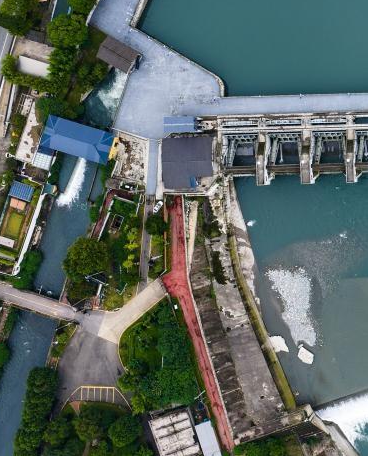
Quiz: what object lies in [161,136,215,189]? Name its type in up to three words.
building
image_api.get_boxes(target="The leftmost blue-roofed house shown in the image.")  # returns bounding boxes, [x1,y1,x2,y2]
[9,180,40,202]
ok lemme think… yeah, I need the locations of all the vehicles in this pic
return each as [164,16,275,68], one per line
[152,200,164,212]
[122,183,135,190]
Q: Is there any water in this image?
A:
Yes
